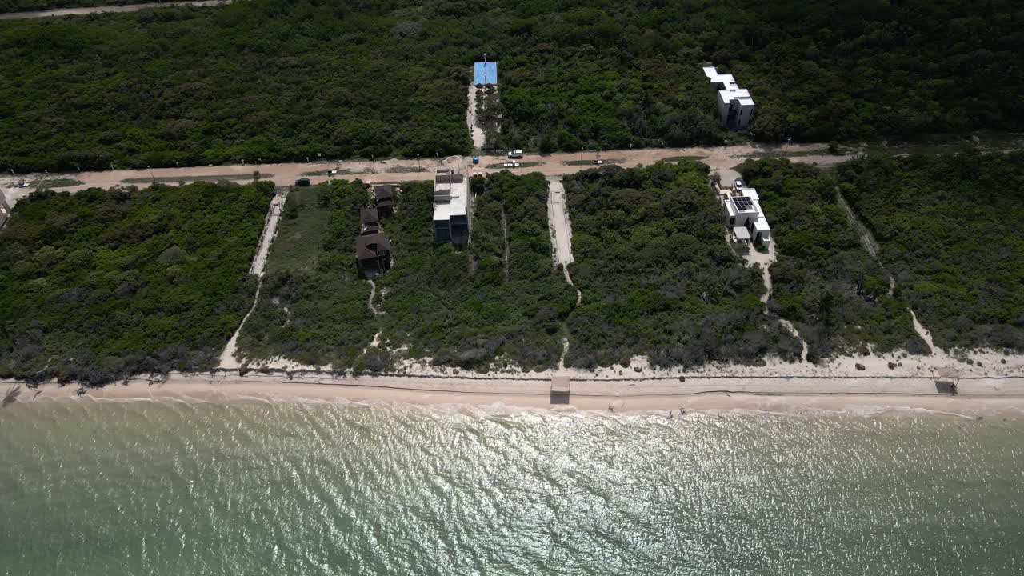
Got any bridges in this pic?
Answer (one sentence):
No, the scene contains no bridge.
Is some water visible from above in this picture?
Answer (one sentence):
Yes, there's water in this view.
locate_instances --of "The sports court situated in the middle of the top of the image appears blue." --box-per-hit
[473,61,497,84]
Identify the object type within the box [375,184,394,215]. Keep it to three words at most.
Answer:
shed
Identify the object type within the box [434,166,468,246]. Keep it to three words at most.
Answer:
building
